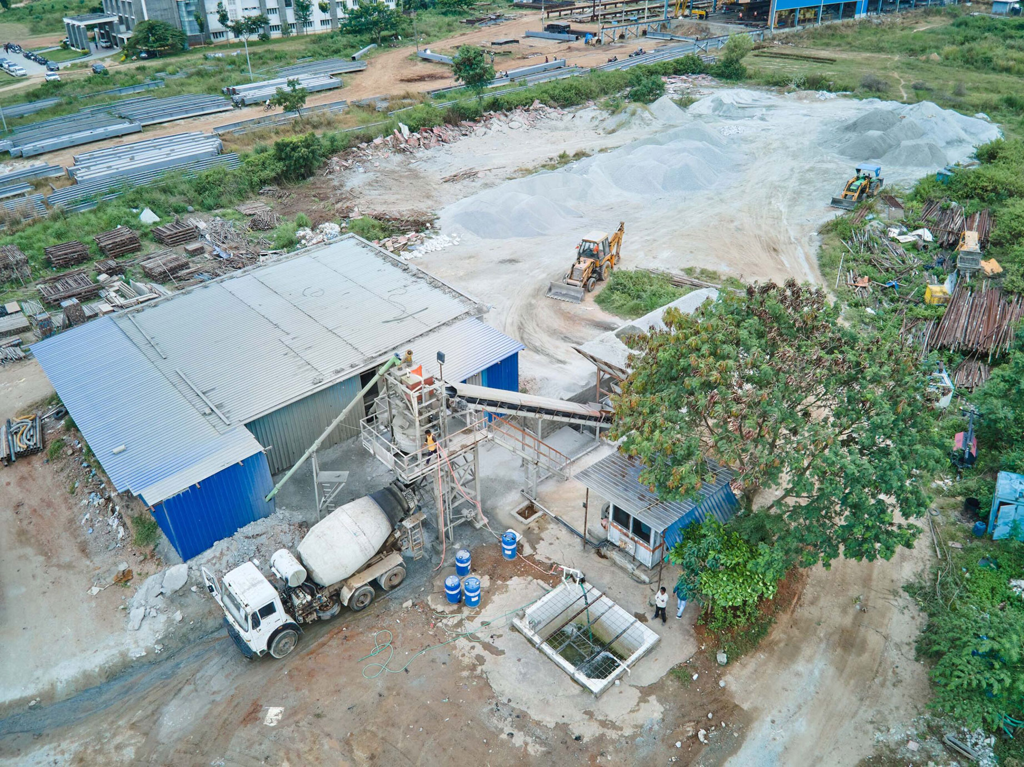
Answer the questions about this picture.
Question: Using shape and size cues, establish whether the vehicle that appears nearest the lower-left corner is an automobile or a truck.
truck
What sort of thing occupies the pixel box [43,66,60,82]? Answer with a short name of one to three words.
car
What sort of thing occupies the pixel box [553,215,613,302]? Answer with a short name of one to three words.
work vehicle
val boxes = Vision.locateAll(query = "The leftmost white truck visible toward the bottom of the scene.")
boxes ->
[205,476,435,669]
